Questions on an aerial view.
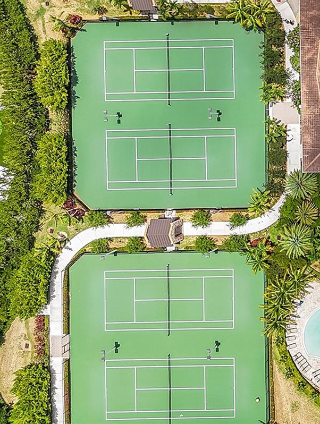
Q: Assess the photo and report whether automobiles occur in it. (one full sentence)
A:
No, there is no automobile in the image.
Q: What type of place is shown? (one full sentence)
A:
The picture captures a sports ground.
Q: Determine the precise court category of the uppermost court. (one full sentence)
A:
Looking closely, the uppermost court is a tennis court.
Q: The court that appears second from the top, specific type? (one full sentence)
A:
It looks like the court that appears second from the top is a tennis court.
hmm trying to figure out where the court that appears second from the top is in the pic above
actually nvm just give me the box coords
[73,113,267,210]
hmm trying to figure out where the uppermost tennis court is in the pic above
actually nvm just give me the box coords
[72,21,266,115]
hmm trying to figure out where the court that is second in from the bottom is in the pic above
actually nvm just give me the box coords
[69,252,266,345]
